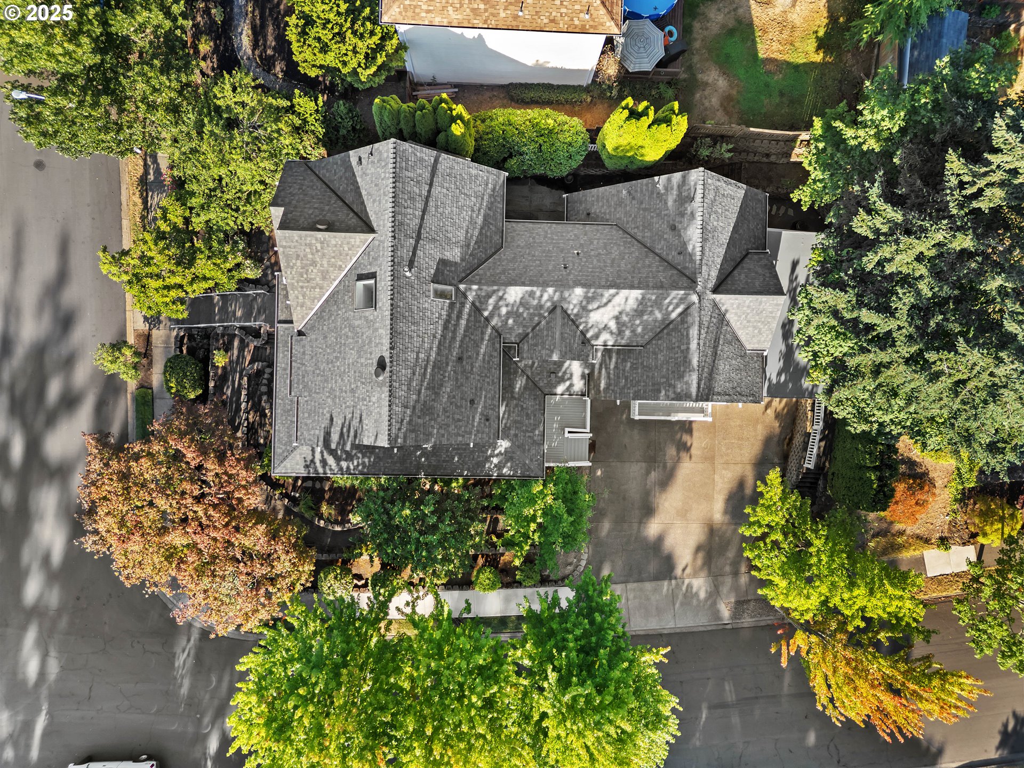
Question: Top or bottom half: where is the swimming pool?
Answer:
top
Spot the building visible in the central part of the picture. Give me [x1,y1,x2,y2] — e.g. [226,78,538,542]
[268,138,830,483]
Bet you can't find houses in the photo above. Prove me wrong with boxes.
[268,138,830,483]
[376,0,627,87]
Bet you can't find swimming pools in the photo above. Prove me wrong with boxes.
[626,0,685,34]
